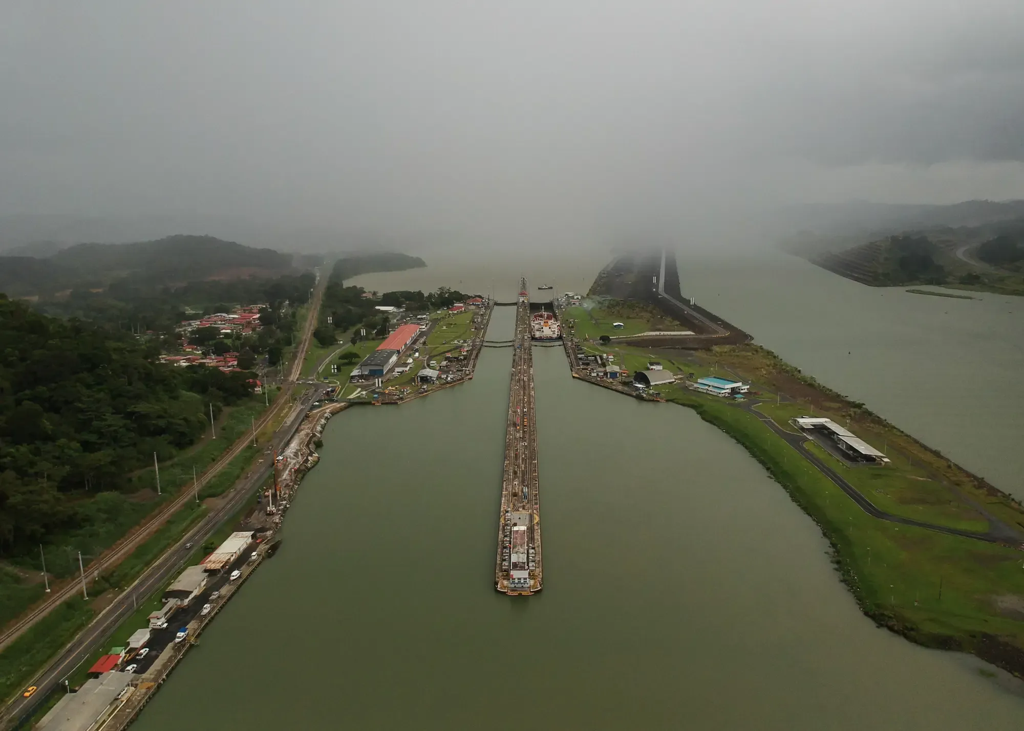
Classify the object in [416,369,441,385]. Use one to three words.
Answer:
building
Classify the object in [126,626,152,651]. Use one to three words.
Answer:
shed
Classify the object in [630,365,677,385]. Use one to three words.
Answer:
hangar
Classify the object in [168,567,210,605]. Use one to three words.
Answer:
building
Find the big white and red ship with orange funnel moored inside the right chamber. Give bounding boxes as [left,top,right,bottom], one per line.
[531,309,559,343]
